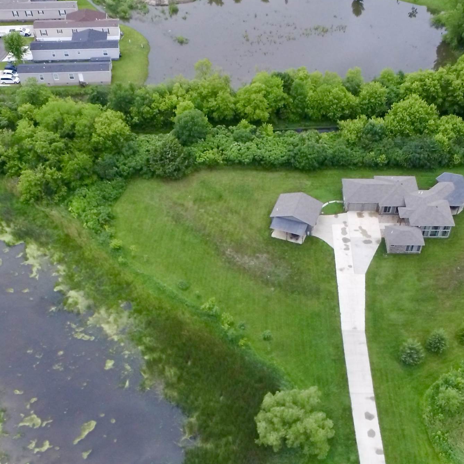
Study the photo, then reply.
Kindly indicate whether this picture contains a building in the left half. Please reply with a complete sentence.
Yes, the scene does show a building in the left half.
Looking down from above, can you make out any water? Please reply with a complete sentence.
Yes, some water is visible.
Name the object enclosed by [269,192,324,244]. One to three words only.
building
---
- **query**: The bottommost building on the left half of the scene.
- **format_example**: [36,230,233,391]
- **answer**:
[18,57,111,84]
